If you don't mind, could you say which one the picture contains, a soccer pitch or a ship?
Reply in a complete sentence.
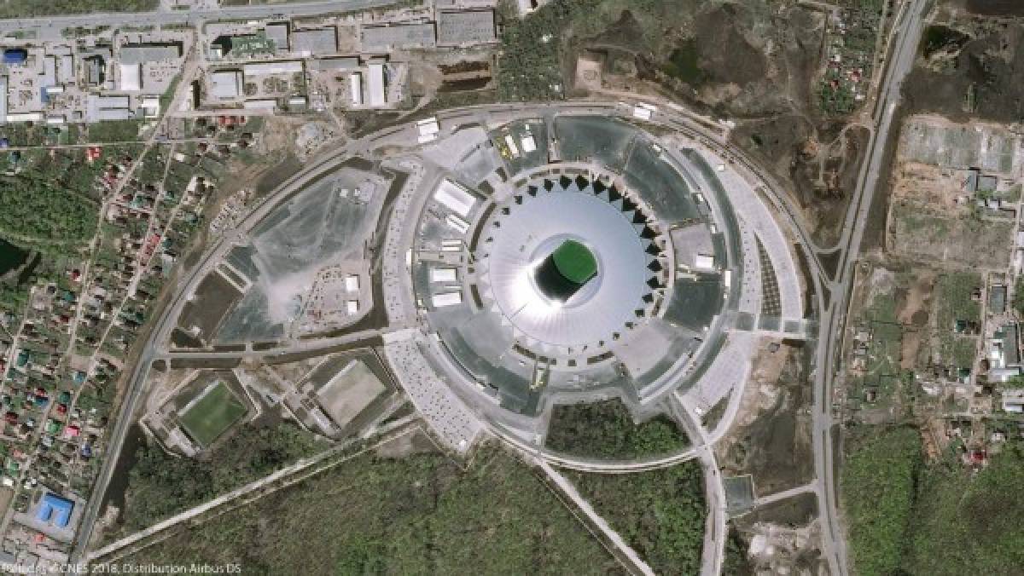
Visible in the photo is a soccer pitch.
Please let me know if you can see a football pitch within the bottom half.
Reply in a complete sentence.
Yes, you'll find a football pitch within the bottom half.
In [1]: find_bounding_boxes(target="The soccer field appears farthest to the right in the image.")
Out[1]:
[537,238,598,299]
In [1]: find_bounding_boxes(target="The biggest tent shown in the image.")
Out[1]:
[435,178,475,214]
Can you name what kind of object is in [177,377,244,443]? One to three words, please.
soccer field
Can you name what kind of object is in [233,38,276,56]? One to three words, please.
building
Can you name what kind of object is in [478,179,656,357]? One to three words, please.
stadium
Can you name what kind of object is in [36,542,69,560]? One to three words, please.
shed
